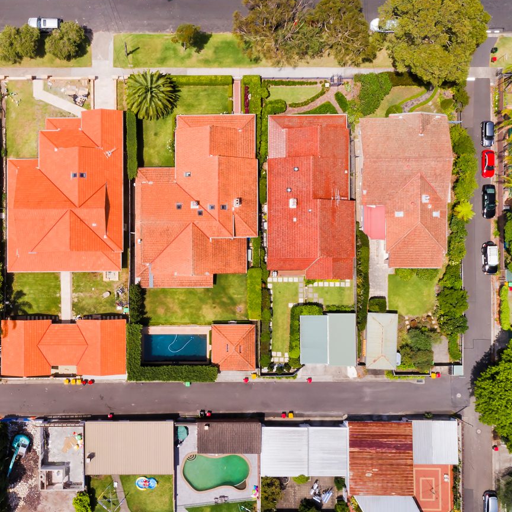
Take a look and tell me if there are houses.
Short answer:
Yes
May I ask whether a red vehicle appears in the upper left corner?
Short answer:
No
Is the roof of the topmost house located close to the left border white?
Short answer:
No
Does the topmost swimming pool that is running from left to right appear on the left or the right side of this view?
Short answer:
left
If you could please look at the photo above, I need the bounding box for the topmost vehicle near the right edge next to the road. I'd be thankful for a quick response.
[479,121,495,148]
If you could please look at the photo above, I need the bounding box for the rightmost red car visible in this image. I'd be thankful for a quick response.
[479,149,495,179]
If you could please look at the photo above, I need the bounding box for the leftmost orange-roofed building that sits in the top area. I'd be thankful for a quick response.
[6,107,123,273]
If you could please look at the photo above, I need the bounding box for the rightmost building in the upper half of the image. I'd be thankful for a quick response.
[357,111,455,268]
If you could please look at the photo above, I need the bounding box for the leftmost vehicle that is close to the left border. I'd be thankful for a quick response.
[5,428,33,481]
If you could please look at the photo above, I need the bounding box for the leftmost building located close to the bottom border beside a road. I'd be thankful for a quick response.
[36,421,87,491]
